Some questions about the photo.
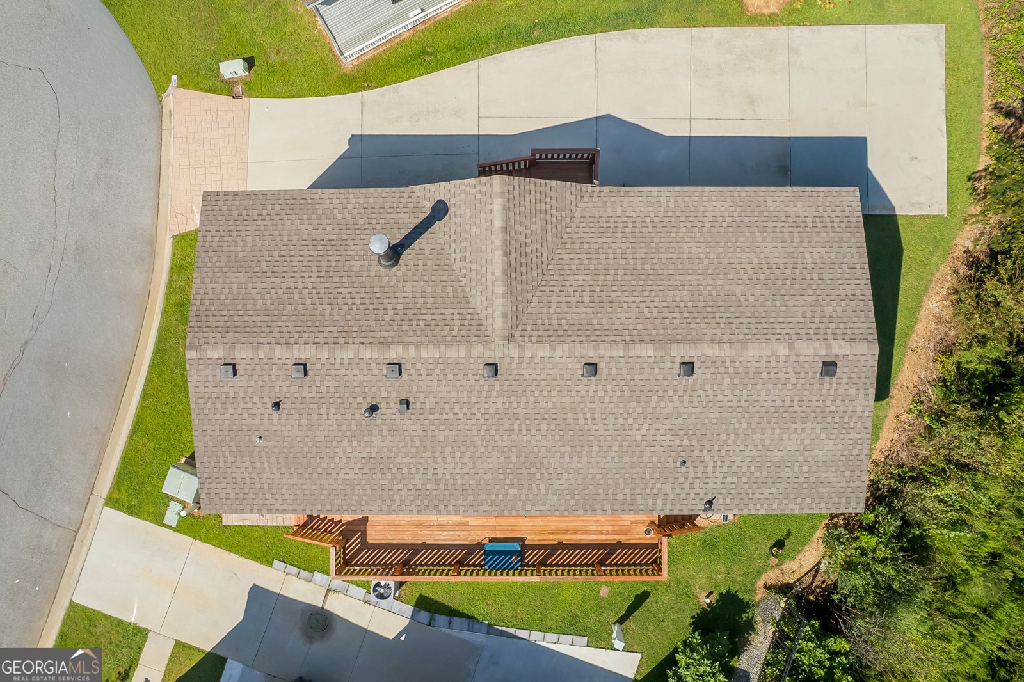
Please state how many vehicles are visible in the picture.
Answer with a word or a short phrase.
0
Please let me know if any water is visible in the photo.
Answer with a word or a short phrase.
No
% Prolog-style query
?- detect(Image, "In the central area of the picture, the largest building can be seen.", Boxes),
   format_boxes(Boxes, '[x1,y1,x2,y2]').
[184,174,879,517]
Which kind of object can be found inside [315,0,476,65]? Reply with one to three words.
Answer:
shed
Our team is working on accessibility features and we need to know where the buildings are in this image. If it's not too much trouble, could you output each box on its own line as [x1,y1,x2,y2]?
[184,174,879,517]
[315,0,476,65]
